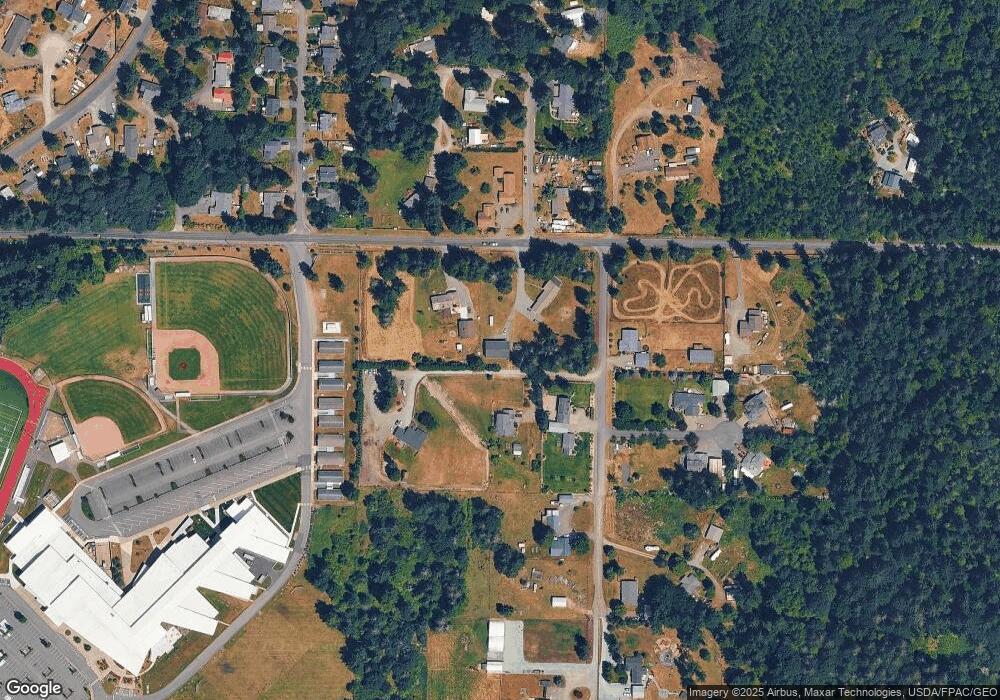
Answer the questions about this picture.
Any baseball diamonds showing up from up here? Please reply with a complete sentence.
Yes, you can see a baseball diamond in this photo.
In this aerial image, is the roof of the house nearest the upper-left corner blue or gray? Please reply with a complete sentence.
The color of the roof of the house nearest the upper-left corner is gray.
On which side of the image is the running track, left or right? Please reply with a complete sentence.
The running track appears in the left half of the scene.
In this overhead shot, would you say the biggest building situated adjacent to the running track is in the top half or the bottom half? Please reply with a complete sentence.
The biggest building situated adjacent to the running track sits in the bottom half of the picture.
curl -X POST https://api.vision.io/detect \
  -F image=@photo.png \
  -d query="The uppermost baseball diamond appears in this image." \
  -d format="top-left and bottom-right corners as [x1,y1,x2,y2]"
[150,256,291,394]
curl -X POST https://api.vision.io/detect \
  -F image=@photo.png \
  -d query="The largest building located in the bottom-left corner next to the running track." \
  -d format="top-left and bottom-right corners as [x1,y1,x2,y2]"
[4,498,293,676]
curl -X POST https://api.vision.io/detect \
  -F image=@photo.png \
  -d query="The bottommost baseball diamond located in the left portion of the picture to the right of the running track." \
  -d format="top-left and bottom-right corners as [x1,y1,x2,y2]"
[57,375,166,462]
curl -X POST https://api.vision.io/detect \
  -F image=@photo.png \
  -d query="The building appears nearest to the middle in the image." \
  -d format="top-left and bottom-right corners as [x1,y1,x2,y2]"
[485,339,508,357]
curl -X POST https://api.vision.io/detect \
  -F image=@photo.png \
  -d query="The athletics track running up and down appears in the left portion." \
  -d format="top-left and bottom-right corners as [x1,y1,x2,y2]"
[0,356,49,522]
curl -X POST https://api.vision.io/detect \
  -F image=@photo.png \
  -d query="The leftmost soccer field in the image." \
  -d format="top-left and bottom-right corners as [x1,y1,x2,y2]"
[0,369,29,490]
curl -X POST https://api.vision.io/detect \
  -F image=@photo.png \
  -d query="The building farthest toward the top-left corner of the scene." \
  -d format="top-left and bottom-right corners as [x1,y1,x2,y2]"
[0,15,30,55]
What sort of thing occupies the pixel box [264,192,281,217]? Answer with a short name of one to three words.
house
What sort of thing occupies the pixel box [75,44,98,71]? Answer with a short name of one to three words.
house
